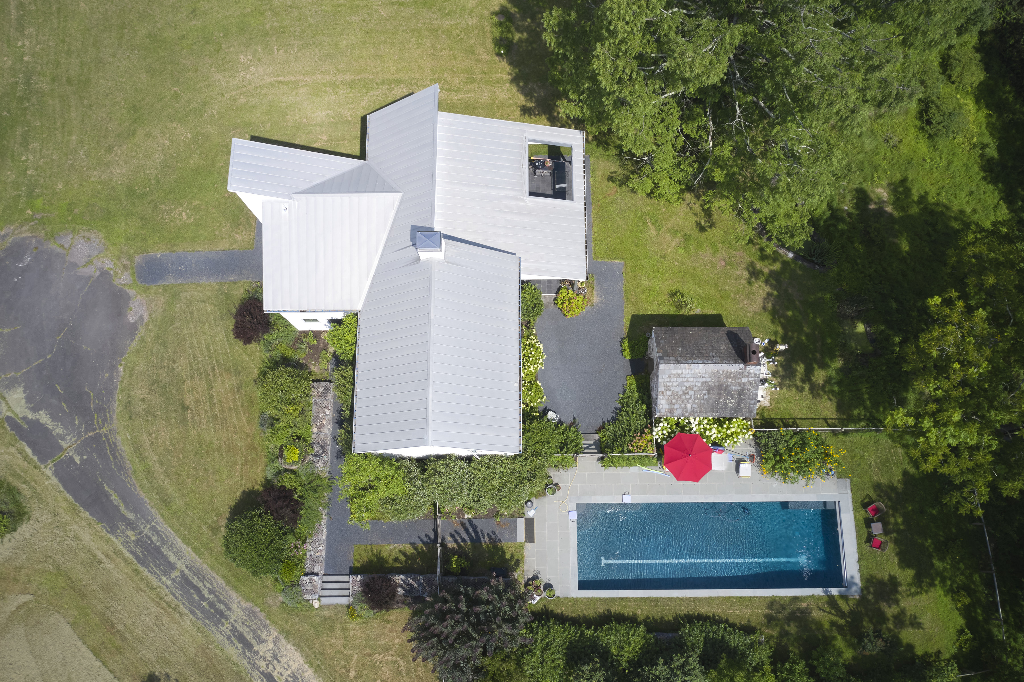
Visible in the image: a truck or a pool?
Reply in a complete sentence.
There is a pool in the scene.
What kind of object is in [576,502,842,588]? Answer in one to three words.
swimming pool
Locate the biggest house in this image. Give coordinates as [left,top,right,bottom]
[225,83,589,463]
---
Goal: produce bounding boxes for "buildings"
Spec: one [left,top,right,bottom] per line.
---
[225,83,589,463]
[647,327,760,418]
